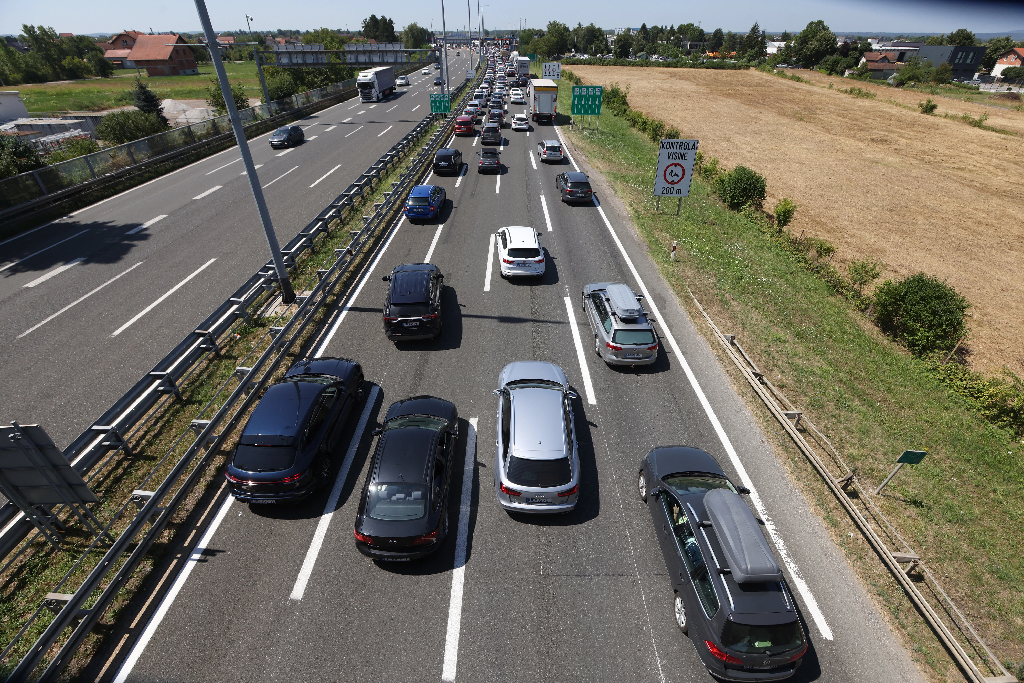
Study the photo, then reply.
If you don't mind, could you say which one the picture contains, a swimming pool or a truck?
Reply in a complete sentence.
The one in the frame is a truck.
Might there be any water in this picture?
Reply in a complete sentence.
No, the picture contains no water.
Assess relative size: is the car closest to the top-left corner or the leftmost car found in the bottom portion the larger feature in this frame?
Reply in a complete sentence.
The leftmost car found in the bottom portion is larger than the car closest to the top-left corner.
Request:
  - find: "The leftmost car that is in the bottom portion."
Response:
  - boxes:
[219,360,366,506]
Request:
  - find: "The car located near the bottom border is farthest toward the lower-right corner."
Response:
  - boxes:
[632,446,817,683]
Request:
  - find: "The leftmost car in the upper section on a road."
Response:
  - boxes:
[275,124,311,148]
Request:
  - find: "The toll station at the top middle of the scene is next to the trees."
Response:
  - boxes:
[432,33,521,47]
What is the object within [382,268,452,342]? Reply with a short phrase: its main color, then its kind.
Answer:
black car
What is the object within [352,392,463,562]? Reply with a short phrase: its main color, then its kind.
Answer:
black car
